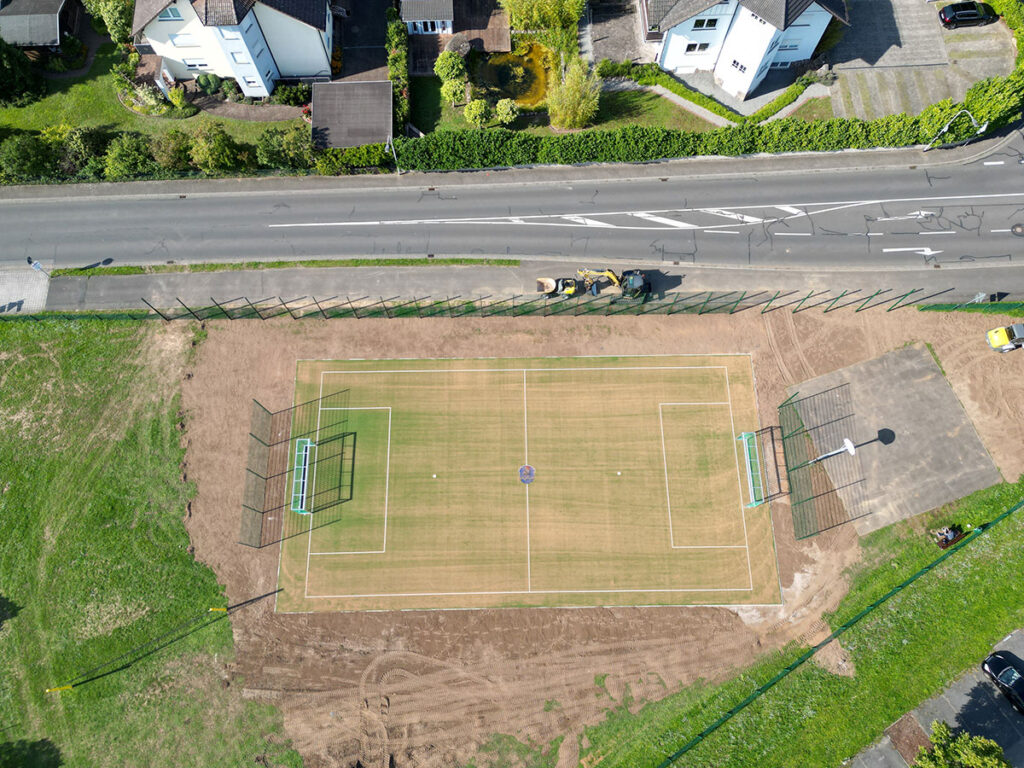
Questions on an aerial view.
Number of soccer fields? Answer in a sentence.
The photo contains exactly 1 soccer field.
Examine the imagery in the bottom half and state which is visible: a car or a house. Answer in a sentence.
The one visible in the bottom half is a car.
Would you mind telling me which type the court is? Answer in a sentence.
The court in the image is a basketball court.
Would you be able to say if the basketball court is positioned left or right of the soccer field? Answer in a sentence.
The basketball court appears to the right of the soccer field in this view.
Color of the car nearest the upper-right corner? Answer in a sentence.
The car nearest the upper-right corner looks black in the image.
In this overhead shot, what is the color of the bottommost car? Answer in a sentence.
The bottommost car is black.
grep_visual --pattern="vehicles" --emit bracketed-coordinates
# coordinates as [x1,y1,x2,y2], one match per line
[980,320,1024,355]
[579,269,651,302]
[937,1,990,30]
[982,653,1024,718]
[538,276,576,302]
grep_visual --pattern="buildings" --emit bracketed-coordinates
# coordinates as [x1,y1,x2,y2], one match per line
[128,0,337,96]
[400,0,454,33]
[627,0,845,101]
[312,80,396,161]
[0,0,74,61]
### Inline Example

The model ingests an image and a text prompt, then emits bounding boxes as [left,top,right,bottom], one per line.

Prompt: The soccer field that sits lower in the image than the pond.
[275,352,782,614]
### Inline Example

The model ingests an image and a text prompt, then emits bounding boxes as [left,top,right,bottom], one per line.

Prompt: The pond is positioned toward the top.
[482,47,552,107]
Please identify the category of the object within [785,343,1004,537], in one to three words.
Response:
basketball court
